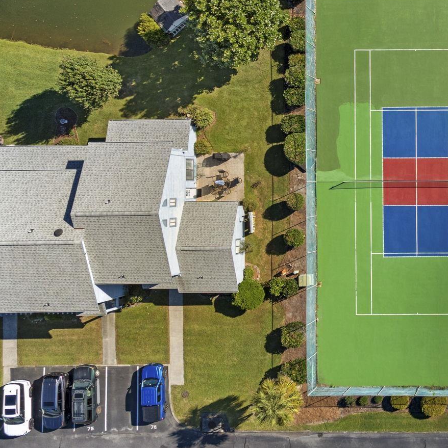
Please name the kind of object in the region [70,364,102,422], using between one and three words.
car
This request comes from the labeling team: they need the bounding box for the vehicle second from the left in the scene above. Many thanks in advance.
[41,370,71,427]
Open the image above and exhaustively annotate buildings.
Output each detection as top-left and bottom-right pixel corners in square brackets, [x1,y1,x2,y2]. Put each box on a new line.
[0,119,245,313]
[149,0,201,46]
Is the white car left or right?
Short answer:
left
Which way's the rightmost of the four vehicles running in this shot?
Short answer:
vertically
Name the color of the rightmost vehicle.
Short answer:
blue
